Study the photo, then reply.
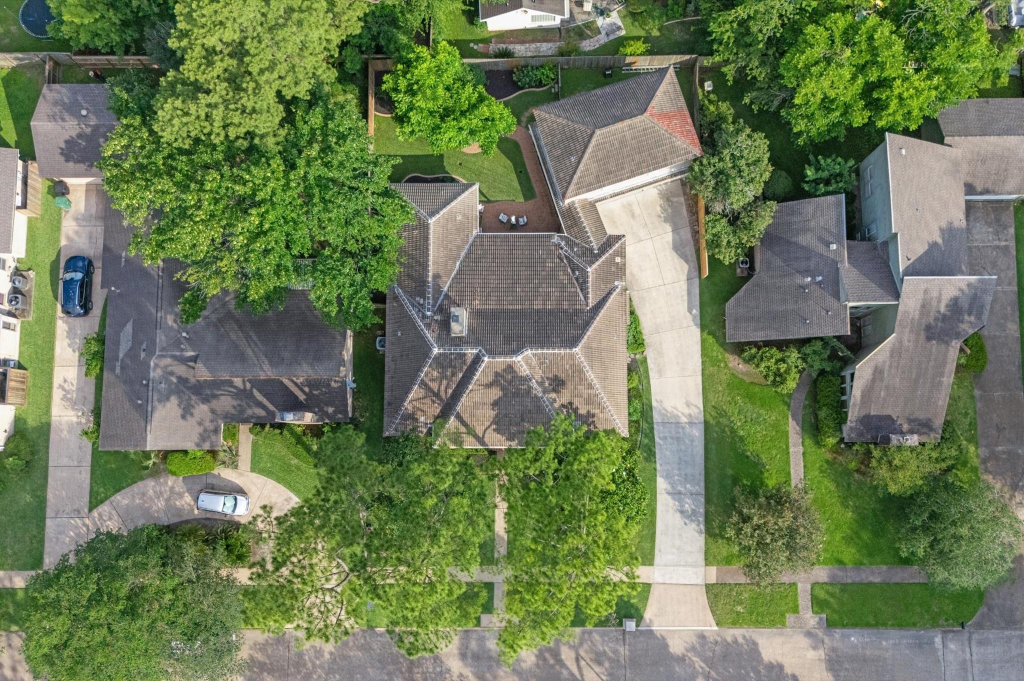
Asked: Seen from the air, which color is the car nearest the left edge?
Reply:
blue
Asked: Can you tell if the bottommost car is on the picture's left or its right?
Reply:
left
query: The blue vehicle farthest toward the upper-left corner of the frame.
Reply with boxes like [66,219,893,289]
[56,256,93,316]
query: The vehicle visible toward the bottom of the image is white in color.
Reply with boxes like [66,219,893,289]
[193,487,249,518]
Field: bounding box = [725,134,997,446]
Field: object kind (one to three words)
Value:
house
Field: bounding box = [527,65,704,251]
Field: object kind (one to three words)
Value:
building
